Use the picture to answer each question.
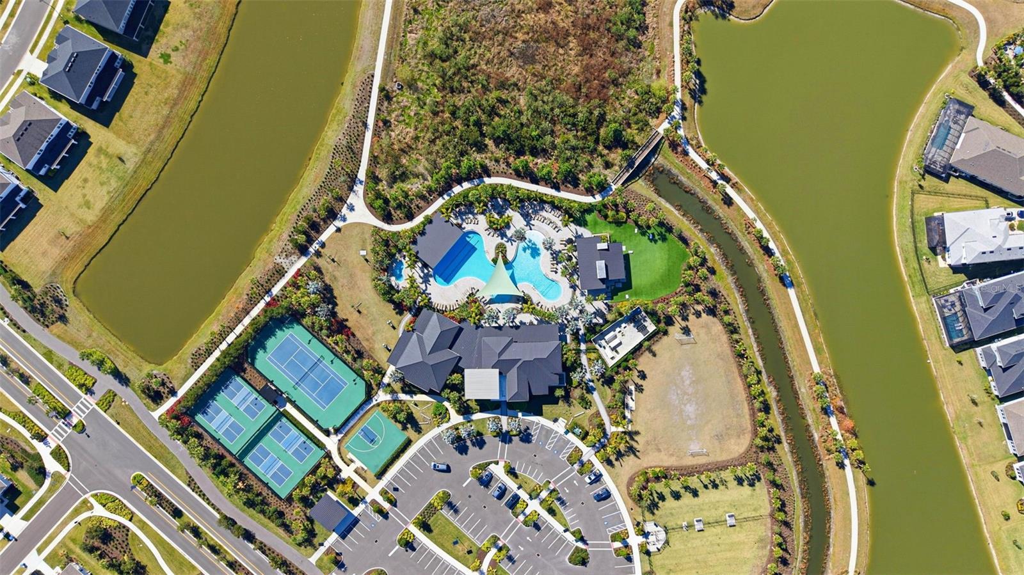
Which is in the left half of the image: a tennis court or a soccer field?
tennis court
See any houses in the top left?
Yes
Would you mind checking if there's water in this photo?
Yes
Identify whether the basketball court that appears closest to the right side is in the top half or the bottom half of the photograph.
bottom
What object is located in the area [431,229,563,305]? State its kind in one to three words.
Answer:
swimming pool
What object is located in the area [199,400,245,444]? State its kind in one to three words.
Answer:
sports court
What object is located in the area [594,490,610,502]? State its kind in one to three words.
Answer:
vehicle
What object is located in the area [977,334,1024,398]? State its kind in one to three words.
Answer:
house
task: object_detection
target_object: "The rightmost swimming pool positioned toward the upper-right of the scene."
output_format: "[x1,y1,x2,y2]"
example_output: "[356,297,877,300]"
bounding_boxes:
[932,120,951,151]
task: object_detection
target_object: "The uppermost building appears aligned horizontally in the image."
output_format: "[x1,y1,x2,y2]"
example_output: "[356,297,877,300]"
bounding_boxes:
[73,0,162,41]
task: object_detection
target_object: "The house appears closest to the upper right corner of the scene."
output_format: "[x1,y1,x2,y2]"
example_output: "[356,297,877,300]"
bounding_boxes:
[946,116,1024,199]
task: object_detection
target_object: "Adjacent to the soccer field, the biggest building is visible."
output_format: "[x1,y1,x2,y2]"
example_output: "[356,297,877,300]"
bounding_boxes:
[387,307,566,402]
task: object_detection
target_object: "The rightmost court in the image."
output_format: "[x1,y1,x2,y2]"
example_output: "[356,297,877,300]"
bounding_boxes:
[345,410,408,474]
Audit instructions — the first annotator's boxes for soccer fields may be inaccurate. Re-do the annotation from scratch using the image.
[602,314,751,530]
